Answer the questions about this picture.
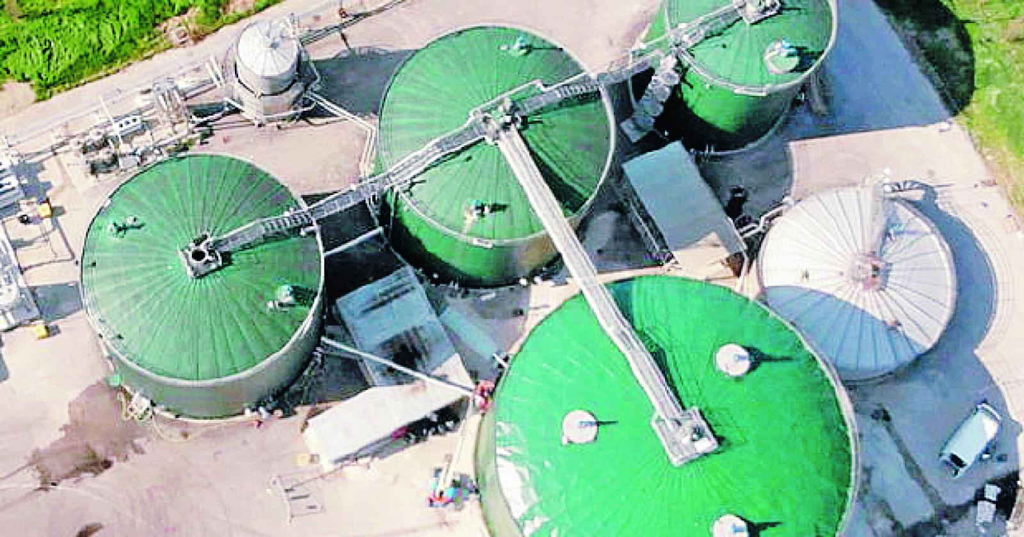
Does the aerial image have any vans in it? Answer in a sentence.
Yes, there's a van here.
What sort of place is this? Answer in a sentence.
What you see here is an industrial area.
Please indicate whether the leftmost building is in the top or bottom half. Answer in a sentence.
The leftmost building is in the top half of the image.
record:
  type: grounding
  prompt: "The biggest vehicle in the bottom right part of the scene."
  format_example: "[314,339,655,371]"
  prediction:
[938,403,1005,483]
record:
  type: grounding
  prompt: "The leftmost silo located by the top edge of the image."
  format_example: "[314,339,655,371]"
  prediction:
[228,6,314,132]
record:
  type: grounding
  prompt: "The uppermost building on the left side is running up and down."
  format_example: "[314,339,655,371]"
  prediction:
[0,142,35,223]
